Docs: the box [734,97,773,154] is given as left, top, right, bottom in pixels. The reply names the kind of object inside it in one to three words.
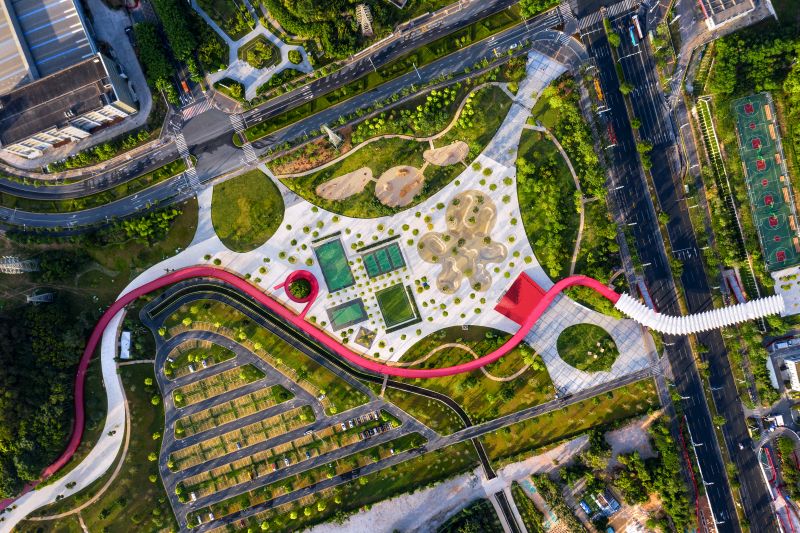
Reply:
basketball court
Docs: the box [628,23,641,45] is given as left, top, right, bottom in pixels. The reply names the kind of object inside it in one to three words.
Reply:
vehicle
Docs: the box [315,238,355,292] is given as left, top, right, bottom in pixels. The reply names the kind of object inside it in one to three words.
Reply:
sports court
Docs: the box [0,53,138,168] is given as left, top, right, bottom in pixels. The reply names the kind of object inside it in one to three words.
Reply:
building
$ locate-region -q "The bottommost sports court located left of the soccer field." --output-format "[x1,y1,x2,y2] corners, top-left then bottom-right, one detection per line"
[326,298,369,331]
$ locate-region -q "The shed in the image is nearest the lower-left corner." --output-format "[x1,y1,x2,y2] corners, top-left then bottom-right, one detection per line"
[120,331,134,359]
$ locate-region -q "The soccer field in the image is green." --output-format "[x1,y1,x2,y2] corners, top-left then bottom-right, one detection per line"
[375,282,417,330]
